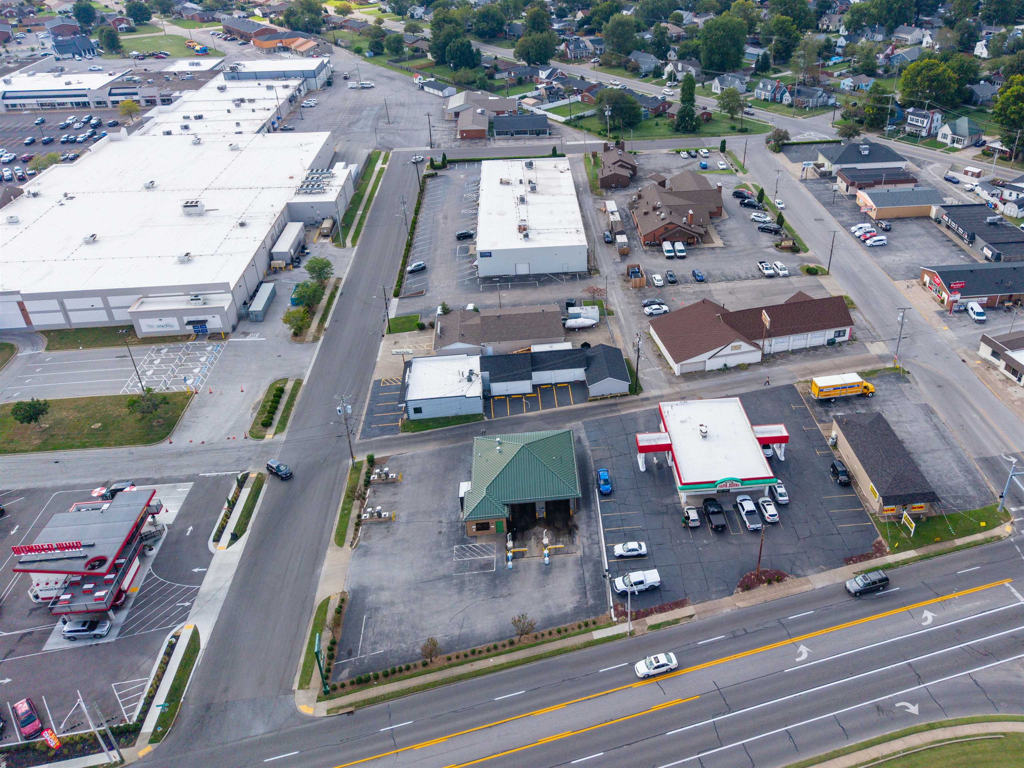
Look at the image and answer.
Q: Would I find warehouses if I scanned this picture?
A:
Yes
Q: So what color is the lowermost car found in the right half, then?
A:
white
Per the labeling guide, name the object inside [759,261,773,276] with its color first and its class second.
white vehicle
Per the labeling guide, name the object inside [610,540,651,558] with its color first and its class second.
white car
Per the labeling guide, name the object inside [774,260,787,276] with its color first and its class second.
white vehicle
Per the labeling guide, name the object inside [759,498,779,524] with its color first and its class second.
white car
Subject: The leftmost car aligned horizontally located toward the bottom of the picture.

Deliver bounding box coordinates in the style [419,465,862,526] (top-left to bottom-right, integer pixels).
[63,619,110,641]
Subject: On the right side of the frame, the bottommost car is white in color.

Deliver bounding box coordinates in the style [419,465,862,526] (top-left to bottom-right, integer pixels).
[632,651,680,679]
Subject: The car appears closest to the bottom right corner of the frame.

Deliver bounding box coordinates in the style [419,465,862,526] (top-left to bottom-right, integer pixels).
[842,566,893,596]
